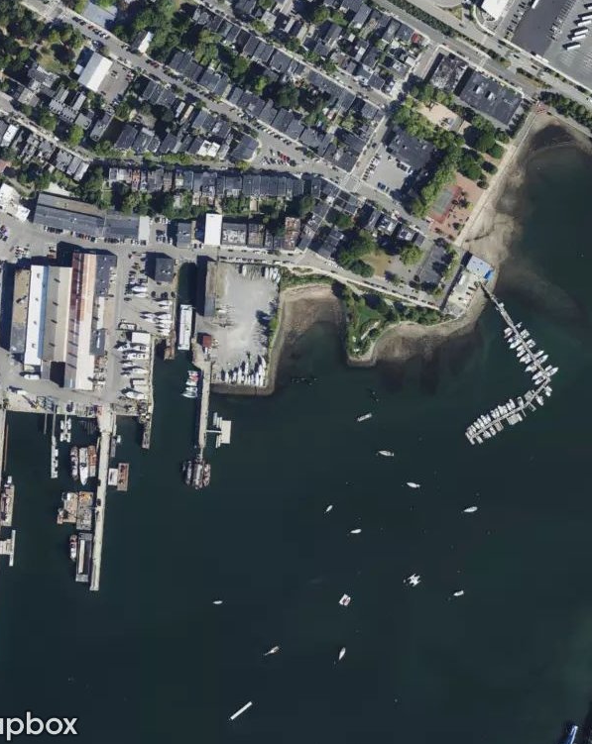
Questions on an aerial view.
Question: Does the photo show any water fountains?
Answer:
No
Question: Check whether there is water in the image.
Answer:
Yes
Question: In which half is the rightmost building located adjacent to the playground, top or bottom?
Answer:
top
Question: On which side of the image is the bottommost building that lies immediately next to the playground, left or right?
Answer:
right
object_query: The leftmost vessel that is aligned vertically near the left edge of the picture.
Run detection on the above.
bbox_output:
[0,475,14,525]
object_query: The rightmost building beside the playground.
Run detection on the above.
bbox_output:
[458,71,521,128]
